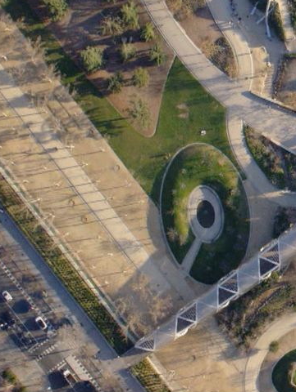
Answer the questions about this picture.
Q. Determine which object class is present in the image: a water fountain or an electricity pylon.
water fountain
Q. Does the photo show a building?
No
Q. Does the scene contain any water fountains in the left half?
No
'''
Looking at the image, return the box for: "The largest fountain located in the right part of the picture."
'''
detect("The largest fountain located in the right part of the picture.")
[187,185,224,243]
